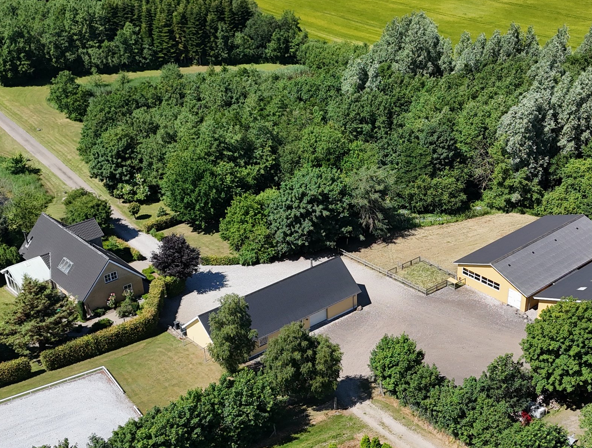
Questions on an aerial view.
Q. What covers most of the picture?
trees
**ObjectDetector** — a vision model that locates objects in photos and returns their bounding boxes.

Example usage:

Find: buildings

[452,211,592,310]
[181,255,362,368]
[0,216,147,321]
